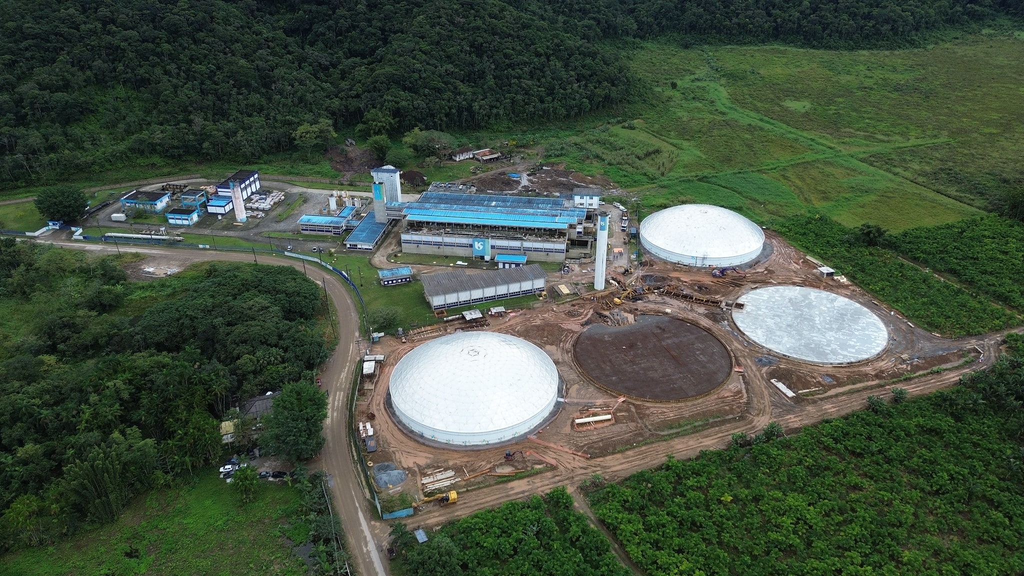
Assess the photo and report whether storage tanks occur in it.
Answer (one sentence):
Yes, a storage tank is visible in the scene.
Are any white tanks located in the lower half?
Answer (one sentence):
Yes, you'll find a white tank in the lower half.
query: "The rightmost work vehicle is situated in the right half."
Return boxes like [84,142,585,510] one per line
[713,263,747,277]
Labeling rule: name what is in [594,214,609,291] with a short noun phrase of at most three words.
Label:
water tower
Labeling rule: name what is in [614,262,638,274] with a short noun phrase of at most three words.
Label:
vehicle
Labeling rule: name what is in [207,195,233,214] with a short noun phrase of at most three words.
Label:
building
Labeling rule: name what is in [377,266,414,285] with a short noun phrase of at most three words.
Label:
shed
